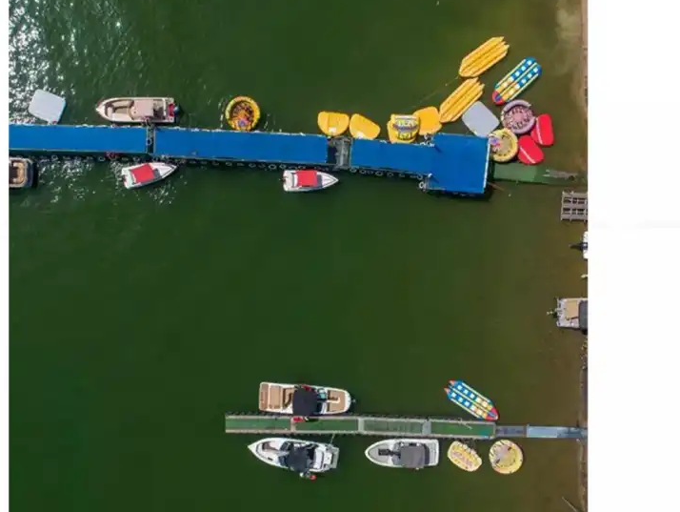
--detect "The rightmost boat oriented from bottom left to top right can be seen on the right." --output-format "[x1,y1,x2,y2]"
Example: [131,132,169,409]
[492,55,546,107]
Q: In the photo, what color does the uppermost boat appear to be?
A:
yellow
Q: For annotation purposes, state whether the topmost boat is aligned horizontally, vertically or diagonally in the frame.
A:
diagonally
